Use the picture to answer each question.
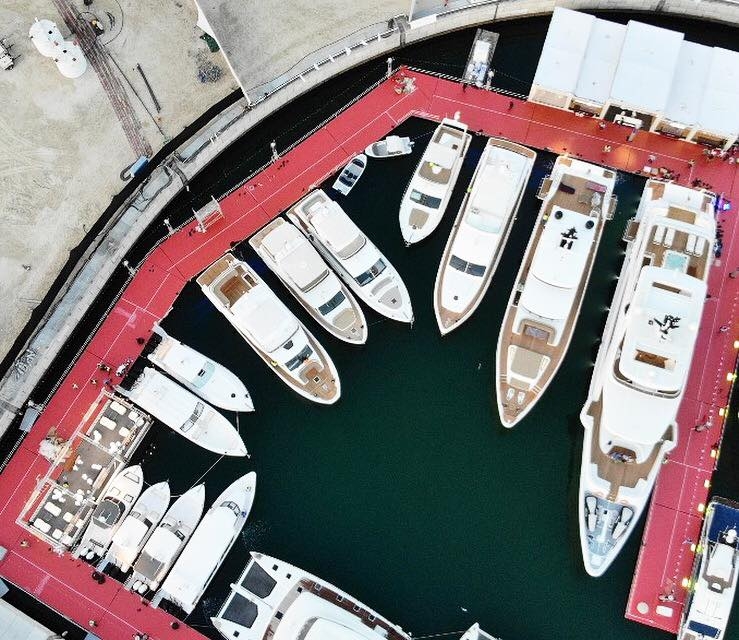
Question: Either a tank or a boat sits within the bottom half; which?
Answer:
boat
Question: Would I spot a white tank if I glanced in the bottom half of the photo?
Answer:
No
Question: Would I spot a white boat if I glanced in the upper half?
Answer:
Yes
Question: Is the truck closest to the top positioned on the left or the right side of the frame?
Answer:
left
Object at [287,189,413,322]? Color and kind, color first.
white boat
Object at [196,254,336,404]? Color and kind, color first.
white boat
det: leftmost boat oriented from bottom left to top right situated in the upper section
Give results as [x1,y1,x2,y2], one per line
[333,154,367,198]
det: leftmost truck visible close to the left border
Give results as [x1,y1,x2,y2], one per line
[0,37,32,74]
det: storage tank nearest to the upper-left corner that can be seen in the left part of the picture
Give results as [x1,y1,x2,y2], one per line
[33,25,70,61]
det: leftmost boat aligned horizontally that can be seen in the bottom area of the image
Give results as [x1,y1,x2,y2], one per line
[211,551,419,640]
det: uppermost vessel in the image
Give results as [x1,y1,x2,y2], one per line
[461,33,499,86]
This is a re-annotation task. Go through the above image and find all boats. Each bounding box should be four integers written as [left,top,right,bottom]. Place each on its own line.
[401,114,471,246]
[437,138,535,334]
[196,254,336,404]
[577,179,716,577]
[683,490,739,640]
[135,482,206,592]
[500,157,617,427]
[79,465,142,565]
[108,481,171,578]
[287,189,413,322]
[162,473,255,615]
[365,133,416,160]
[211,551,419,640]
[333,154,367,198]
[250,219,367,345]
[129,370,249,458]
[149,337,254,411]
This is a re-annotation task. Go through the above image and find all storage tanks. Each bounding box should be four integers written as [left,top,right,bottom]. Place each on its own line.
[33,25,70,61]
[56,44,92,82]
